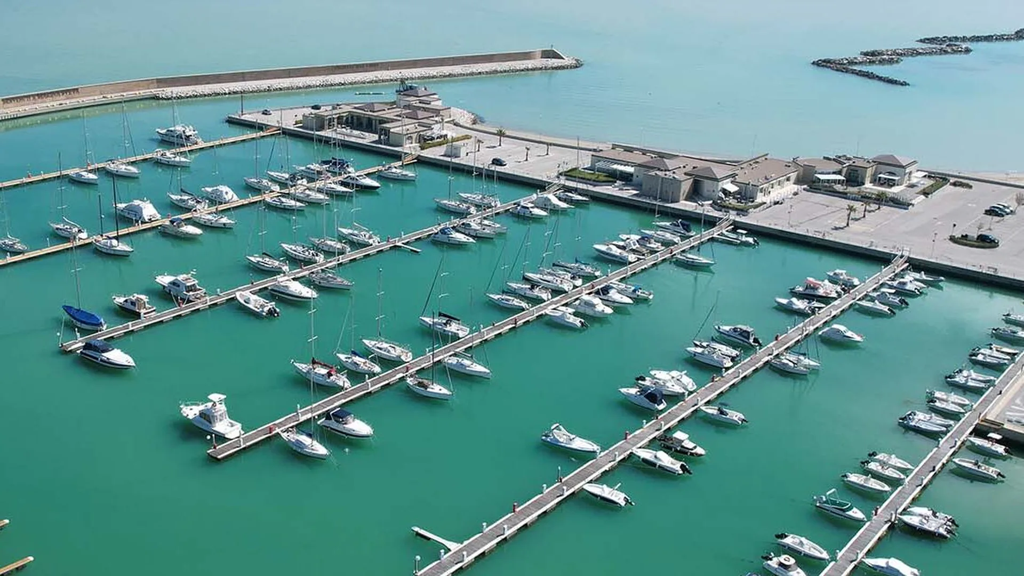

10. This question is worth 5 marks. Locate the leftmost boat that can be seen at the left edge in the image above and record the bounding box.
[0,180,32,253]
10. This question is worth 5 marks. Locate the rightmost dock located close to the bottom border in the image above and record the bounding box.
[807,352,1024,576]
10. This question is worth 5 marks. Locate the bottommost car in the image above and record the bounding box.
[976,231,1003,243]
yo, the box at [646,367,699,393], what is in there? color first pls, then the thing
white boat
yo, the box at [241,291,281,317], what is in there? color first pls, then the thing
white boat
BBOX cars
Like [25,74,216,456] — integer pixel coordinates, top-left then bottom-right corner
[984,206,1010,218]
[307,102,324,110]
[993,201,1017,214]
[258,106,274,114]
[976,231,1003,243]
[489,154,509,164]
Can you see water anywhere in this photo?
Yes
